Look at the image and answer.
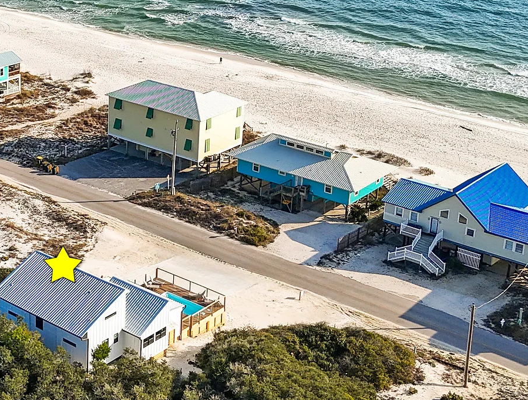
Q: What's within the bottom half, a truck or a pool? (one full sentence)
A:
You can see a pool within the bottom half.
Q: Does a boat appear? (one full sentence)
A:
No, I can see no boat in this picture.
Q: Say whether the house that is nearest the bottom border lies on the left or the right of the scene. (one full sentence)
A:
It is on the left.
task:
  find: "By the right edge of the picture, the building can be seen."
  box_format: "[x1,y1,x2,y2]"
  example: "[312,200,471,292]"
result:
[377,156,528,282]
